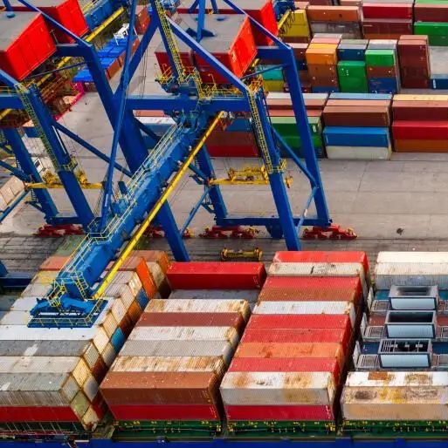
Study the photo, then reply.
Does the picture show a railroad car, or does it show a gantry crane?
gantry crane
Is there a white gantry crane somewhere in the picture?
No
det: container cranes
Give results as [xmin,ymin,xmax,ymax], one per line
[14,0,353,340]
[0,0,194,256]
